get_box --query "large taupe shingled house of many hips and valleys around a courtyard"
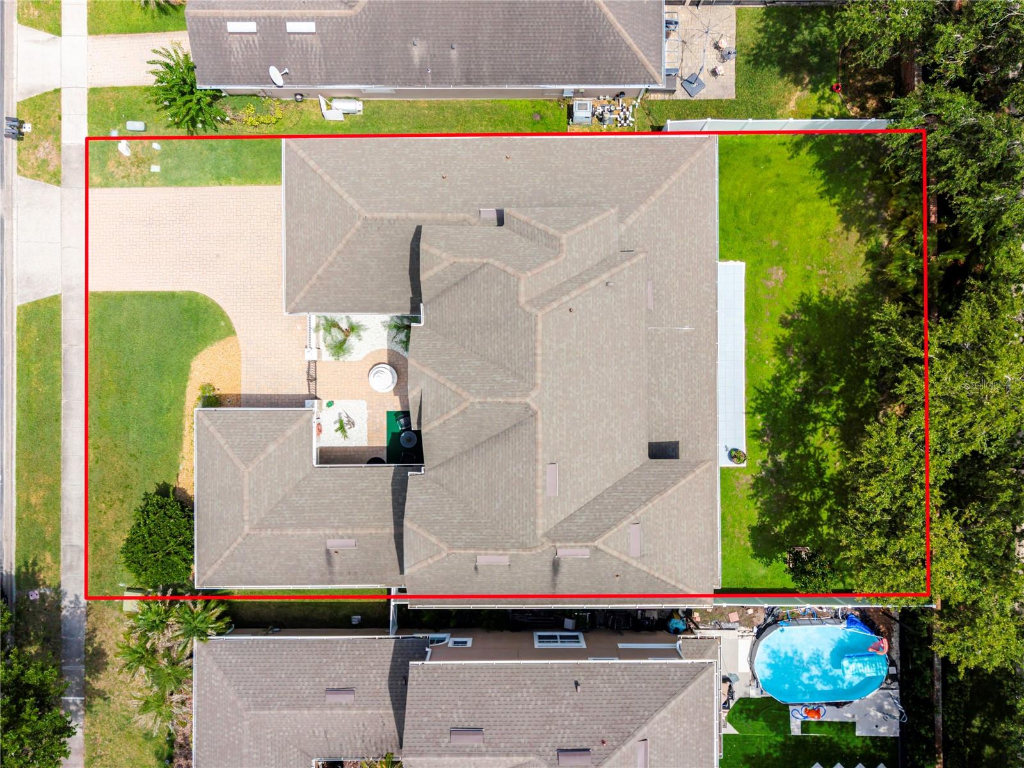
[192,132,725,609]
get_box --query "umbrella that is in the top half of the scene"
[677,6,734,97]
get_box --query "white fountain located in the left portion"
[368,364,397,393]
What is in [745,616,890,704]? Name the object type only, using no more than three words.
swimming pool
